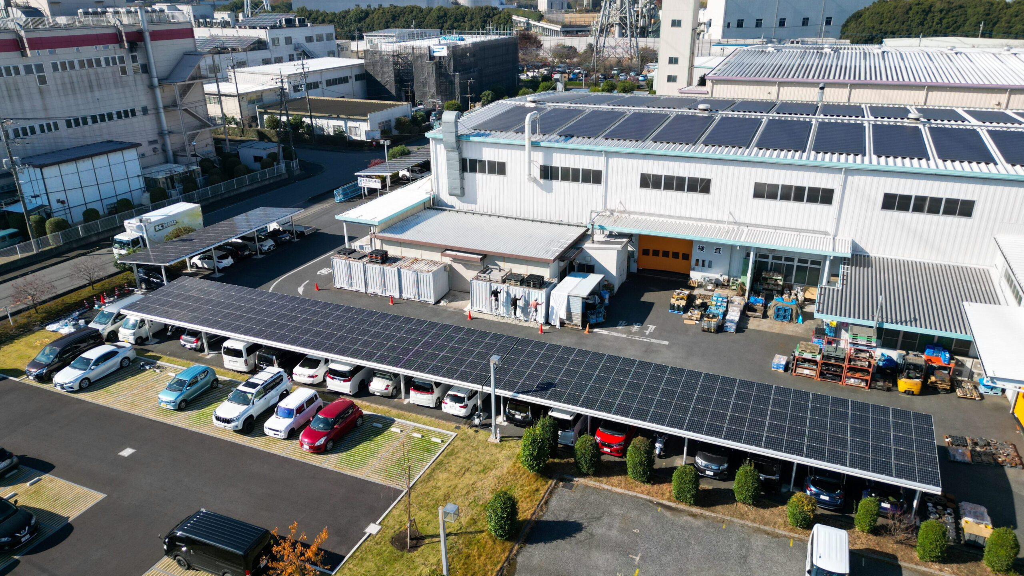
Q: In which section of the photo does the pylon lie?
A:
top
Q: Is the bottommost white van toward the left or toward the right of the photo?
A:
right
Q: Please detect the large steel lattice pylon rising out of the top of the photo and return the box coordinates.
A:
[591,0,637,68]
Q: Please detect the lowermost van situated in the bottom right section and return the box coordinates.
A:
[799,531,848,576]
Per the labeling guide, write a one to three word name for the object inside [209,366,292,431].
car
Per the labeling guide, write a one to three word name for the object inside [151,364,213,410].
car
